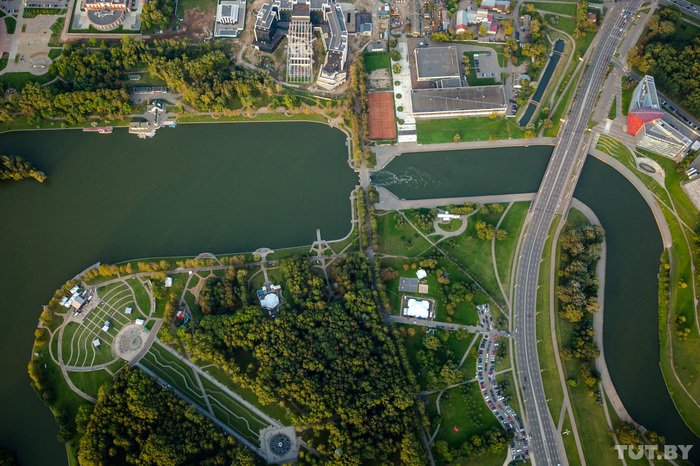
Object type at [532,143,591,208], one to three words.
bridge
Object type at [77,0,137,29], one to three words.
building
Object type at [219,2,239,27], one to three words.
house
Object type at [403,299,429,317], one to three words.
tent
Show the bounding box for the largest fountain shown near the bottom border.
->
[269,433,291,456]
